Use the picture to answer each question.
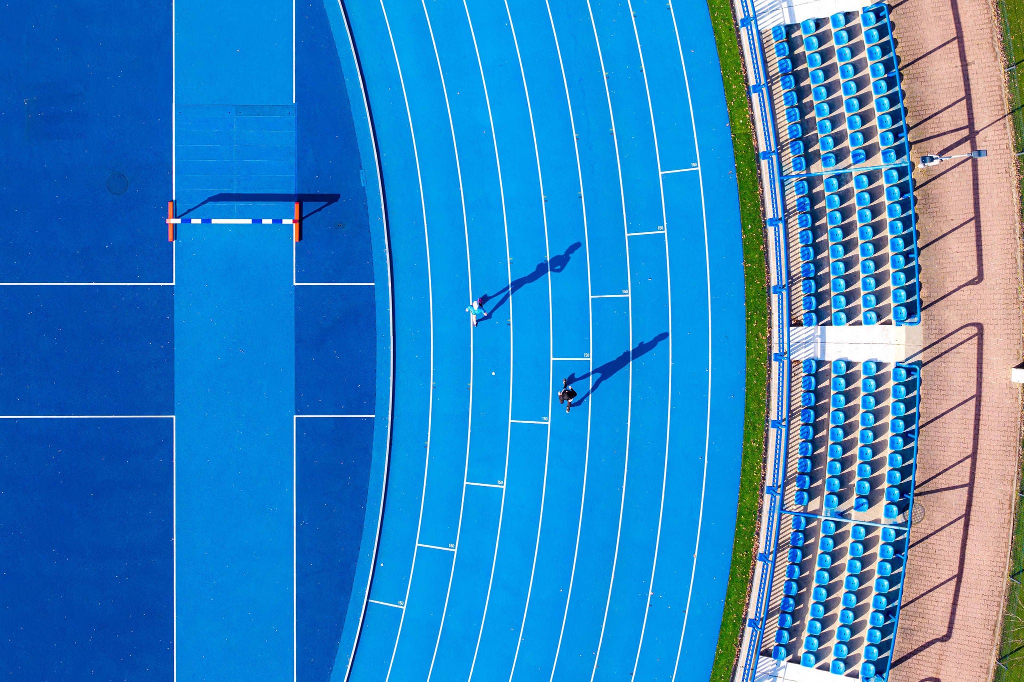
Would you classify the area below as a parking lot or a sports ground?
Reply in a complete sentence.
The area seen from above is a sports ground.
